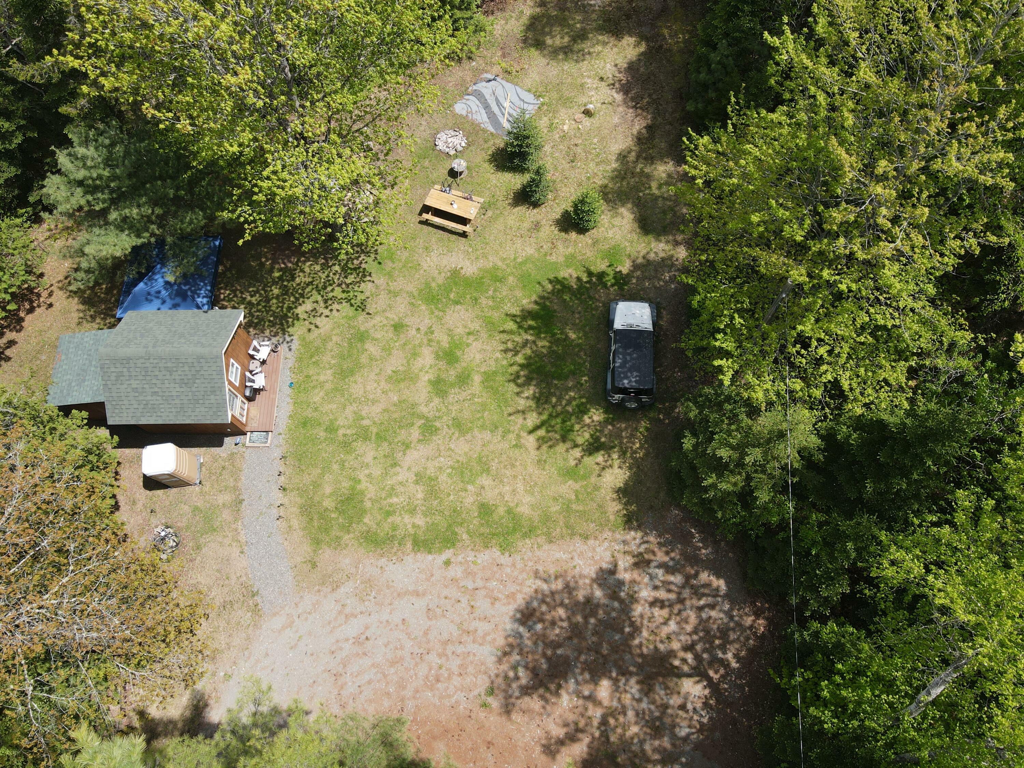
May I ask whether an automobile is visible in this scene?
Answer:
Yes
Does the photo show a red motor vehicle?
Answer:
No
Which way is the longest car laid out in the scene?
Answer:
up and down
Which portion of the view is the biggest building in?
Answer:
left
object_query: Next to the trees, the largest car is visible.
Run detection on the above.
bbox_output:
[604,297,662,411]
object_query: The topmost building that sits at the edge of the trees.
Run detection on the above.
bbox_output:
[42,312,254,433]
